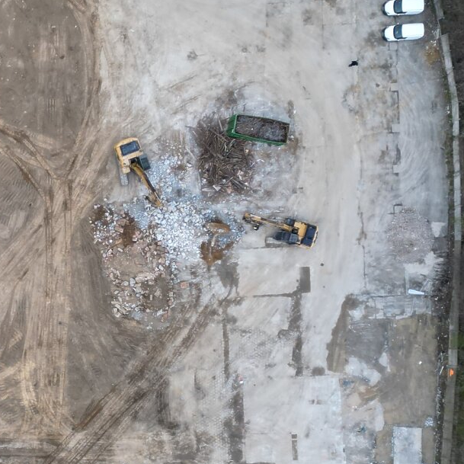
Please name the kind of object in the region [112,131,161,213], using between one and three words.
work vehicle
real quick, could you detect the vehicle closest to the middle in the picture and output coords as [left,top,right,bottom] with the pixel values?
[228,211,328,250]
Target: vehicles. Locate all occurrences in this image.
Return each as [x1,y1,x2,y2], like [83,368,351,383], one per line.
[381,21,429,42]
[228,211,328,250]
[381,0,429,18]
[112,131,161,213]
